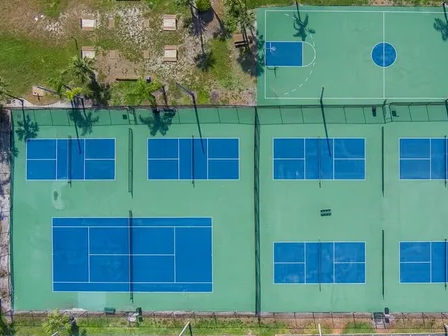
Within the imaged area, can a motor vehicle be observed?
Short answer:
No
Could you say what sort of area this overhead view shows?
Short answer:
sports ground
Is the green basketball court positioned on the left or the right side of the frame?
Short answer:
right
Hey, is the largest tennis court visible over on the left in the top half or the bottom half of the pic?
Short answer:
bottom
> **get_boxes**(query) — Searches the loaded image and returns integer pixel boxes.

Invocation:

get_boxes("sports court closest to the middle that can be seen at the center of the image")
[147,138,240,180]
